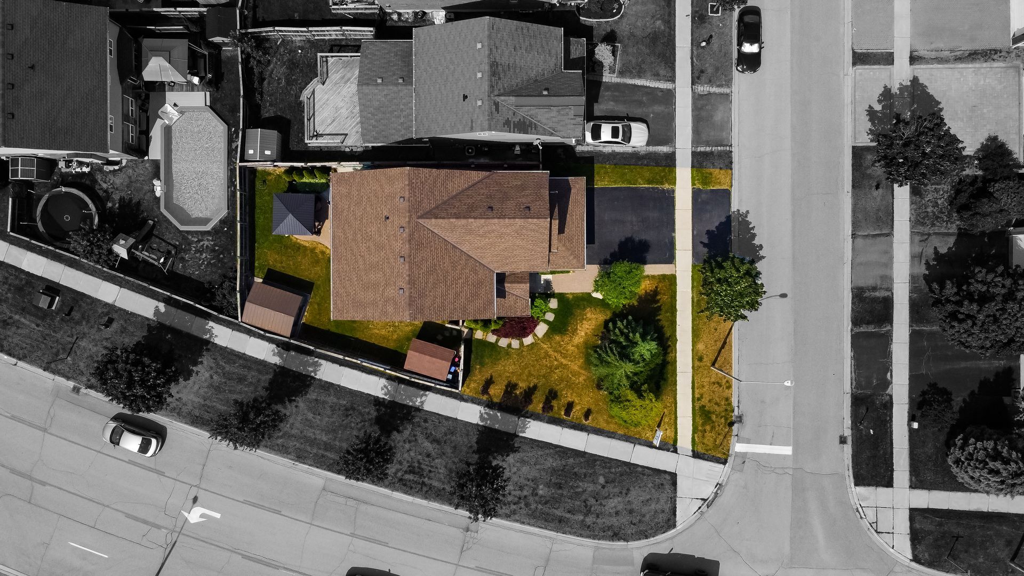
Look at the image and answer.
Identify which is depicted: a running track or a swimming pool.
swimming pool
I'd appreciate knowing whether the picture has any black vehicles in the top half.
Yes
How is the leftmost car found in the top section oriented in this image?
from side to side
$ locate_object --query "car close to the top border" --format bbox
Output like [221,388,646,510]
[737,5,769,73]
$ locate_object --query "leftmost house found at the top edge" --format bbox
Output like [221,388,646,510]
[0,0,155,168]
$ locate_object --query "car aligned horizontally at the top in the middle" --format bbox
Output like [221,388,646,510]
[586,116,649,146]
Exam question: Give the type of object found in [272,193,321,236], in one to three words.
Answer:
gazebo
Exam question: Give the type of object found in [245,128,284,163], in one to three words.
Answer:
shed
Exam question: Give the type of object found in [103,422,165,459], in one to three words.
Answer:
car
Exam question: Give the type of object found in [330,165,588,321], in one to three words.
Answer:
house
